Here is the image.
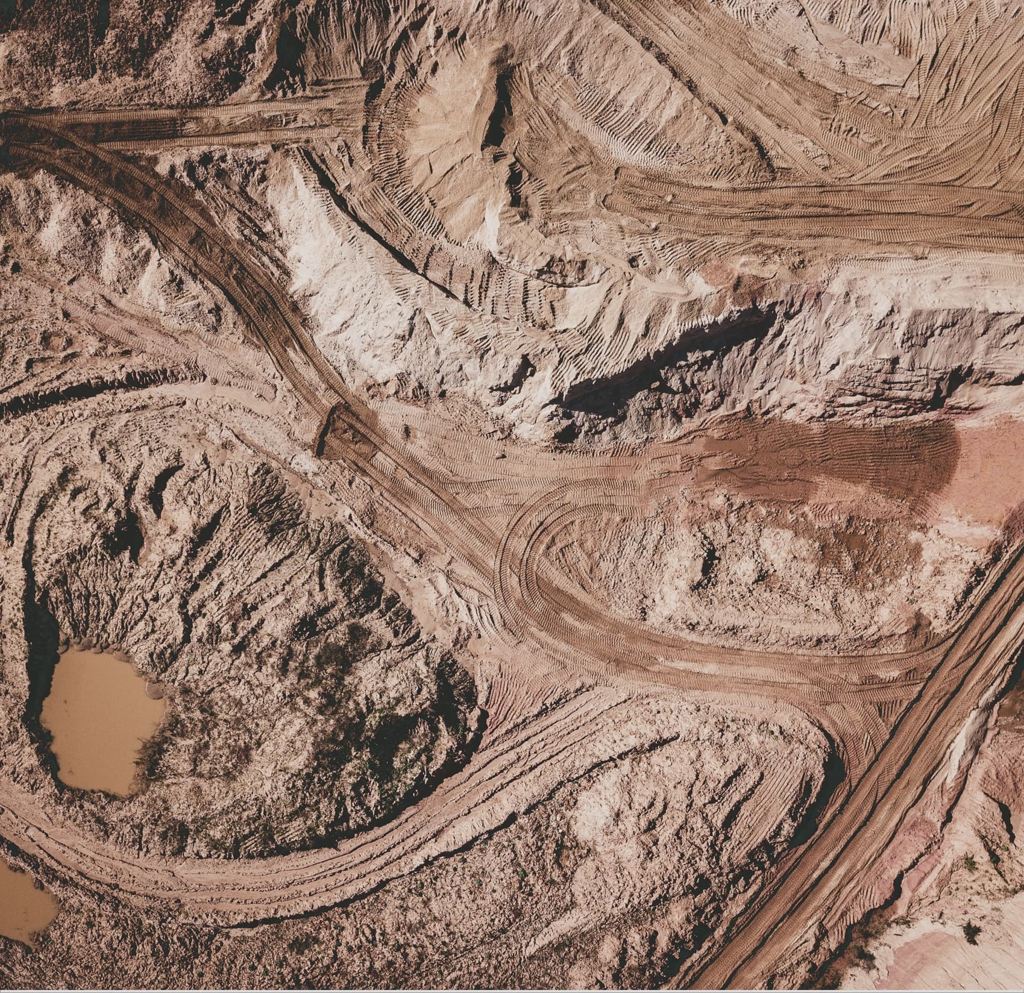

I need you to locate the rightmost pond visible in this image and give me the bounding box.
[39,638,170,807]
